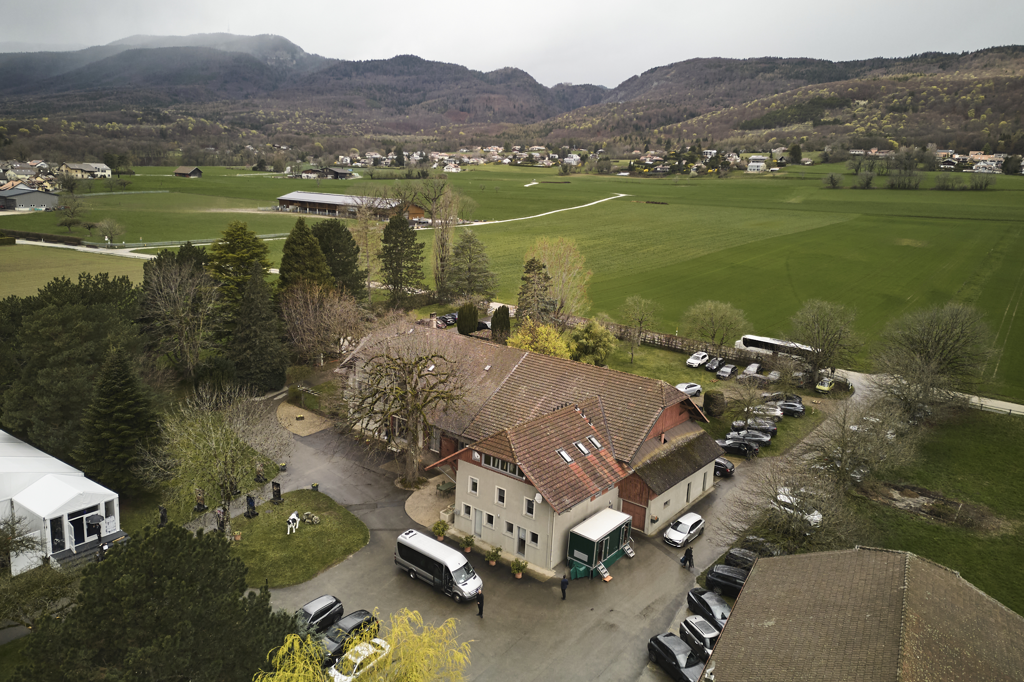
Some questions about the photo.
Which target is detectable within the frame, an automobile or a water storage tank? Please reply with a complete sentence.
Of the two, only an automobile appears.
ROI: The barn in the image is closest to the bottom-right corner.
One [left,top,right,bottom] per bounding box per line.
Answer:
[699,545,1024,682]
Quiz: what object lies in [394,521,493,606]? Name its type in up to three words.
vehicle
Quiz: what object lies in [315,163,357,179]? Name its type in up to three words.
building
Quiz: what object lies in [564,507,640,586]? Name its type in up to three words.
trailer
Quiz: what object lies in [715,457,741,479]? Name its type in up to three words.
car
